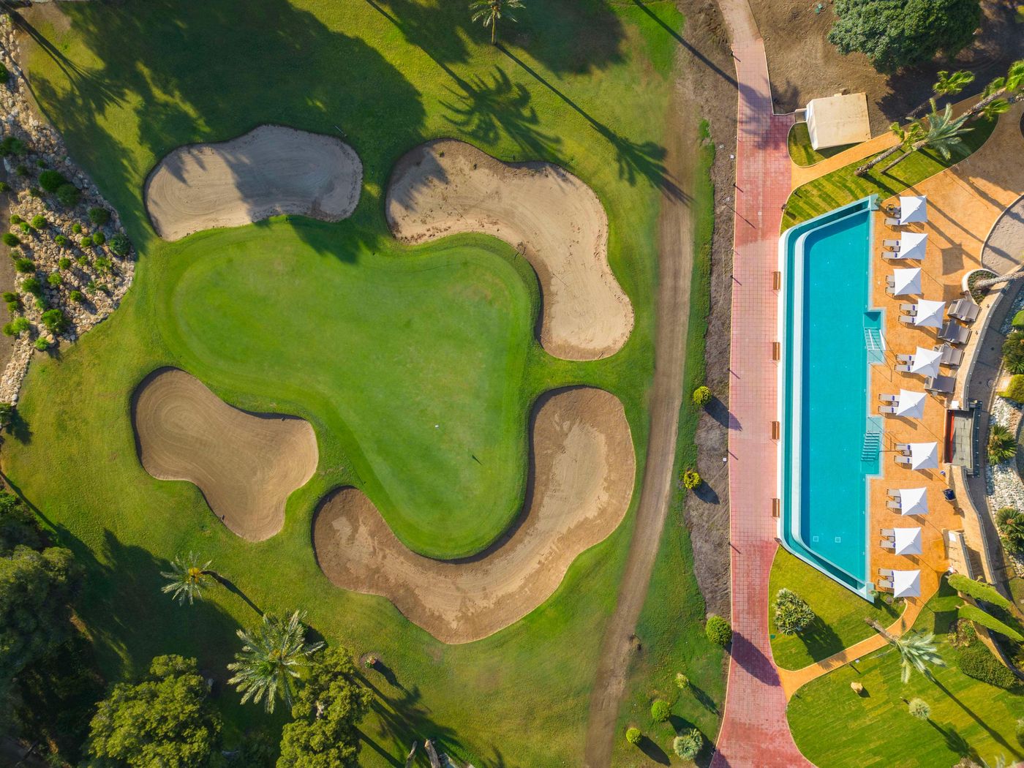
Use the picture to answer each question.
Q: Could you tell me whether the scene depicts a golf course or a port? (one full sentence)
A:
This image shows a golf course.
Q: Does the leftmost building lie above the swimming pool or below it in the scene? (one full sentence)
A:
Looking at the scene, the leftmost building is located above the swimming pool.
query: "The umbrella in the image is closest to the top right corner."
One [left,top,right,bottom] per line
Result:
[899,196,927,224]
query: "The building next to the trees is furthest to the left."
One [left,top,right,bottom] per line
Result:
[794,92,871,151]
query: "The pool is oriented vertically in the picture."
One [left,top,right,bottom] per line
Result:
[776,193,887,603]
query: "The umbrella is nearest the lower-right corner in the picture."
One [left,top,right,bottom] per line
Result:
[893,570,920,597]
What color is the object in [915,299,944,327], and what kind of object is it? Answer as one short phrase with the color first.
white umbrella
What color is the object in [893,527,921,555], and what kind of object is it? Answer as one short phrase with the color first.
white umbrella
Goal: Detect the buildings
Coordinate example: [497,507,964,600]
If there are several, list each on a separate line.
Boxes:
[941,402,982,477]
[794,92,871,151]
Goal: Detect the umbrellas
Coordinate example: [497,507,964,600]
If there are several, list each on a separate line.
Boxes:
[911,347,942,378]
[915,299,944,327]
[899,488,927,515]
[899,196,927,224]
[893,570,920,597]
[895,388,926,419]
[898,232,926,259]
[909,441,938,469]
[893,268,921,296]
[893,527,921,555]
